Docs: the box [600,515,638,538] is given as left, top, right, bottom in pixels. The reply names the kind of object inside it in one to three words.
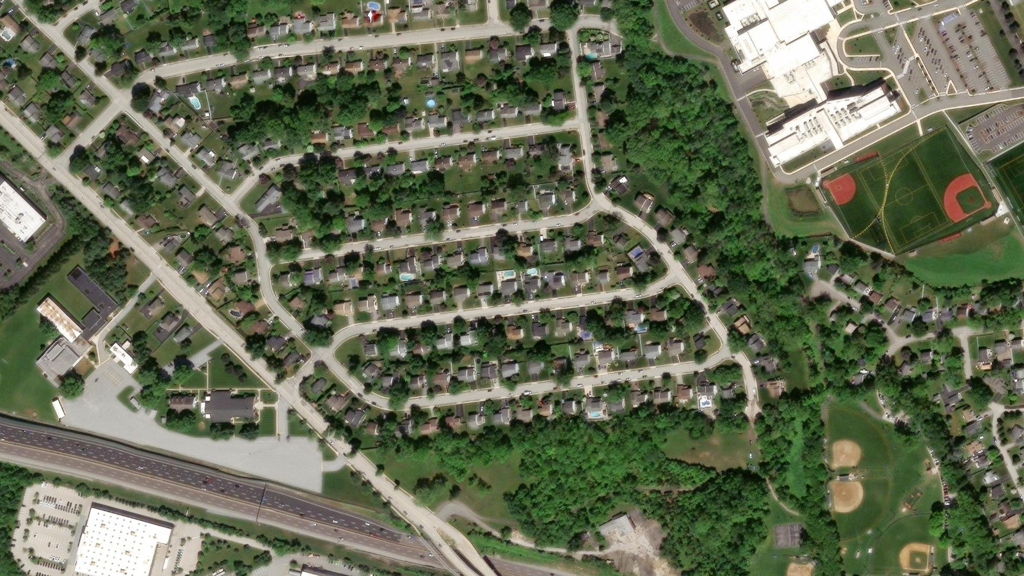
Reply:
shed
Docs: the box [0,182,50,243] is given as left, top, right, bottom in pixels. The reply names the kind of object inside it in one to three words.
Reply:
building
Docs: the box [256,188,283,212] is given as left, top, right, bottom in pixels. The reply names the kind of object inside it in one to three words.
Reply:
house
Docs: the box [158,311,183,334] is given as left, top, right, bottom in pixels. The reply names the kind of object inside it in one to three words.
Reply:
house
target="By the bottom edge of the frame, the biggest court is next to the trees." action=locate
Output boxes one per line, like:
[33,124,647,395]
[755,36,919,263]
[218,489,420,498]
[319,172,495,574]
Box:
[775,525,803,548]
